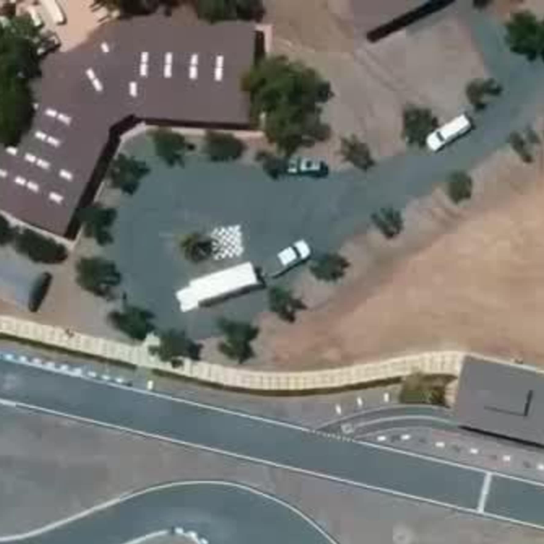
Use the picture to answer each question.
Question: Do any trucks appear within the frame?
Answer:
Yes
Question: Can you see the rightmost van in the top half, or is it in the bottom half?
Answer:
top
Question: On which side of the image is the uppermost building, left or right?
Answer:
right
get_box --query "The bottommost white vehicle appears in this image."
[179,262,262,309]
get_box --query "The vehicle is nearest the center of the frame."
[274,238,314,269]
